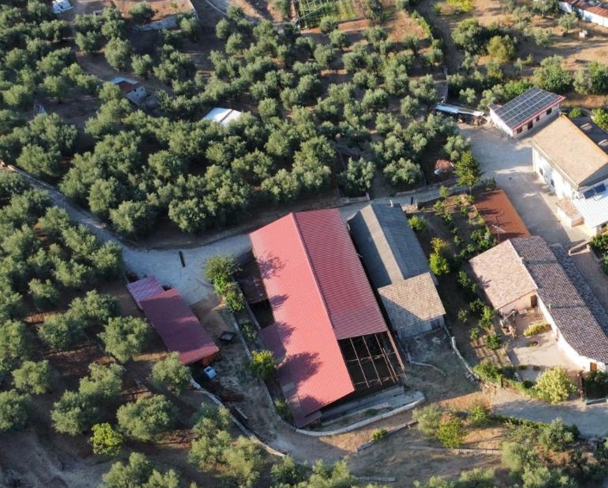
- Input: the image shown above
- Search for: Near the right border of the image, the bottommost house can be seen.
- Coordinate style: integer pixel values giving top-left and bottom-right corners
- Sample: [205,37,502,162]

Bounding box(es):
[469,236,608,380]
